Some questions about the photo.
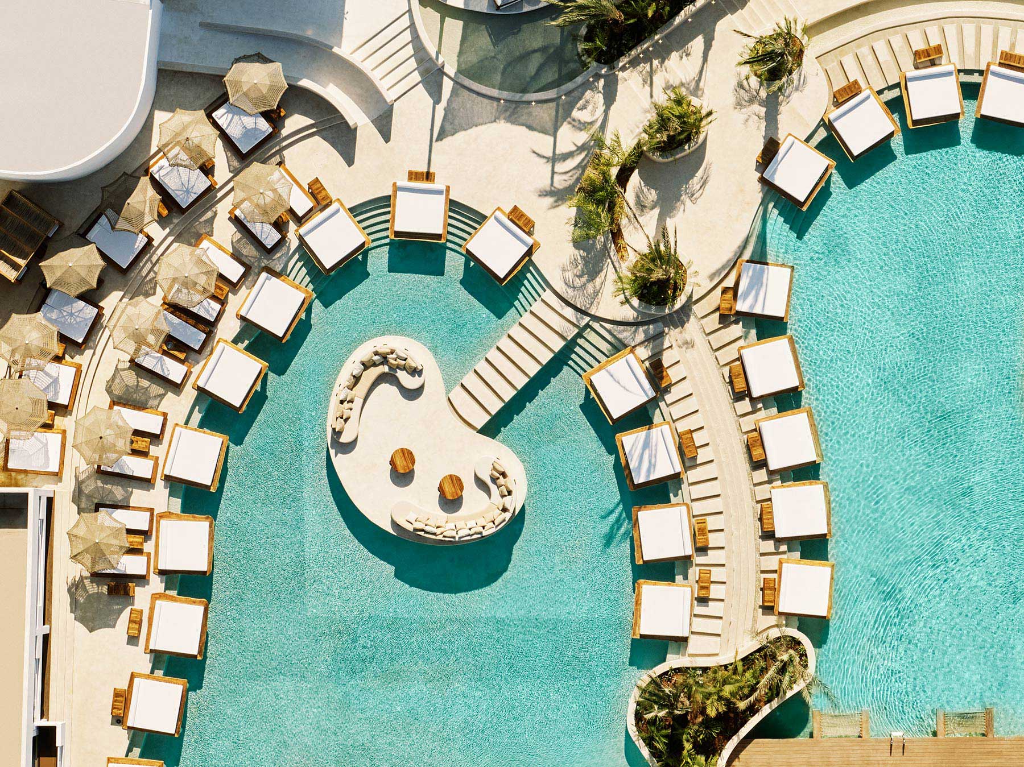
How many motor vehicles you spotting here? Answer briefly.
zero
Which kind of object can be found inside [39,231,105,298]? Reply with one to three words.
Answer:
umbrella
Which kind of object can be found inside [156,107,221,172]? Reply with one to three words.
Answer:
umbrella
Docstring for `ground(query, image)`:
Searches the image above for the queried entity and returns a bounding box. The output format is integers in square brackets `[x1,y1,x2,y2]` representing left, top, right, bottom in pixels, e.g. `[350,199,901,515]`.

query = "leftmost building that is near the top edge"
[0,0,160,182]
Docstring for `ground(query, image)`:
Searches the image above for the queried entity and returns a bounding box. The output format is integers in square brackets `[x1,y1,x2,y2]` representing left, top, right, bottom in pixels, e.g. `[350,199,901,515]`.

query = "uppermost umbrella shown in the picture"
[223,50,290,116]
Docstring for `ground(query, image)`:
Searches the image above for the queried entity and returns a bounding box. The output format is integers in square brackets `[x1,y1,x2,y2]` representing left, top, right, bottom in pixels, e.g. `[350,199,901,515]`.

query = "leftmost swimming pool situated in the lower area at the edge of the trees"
[126,195,692,767]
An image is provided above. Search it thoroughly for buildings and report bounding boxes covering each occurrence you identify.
[0,485,66,767]
[0,0,160,182]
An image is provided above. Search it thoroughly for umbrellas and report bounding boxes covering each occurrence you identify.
[156,107,221,172]
[105,295,171,361]
[39,231,105,298]
[70,405,134,469]
[0,311,61,374]
[231,160,294,223]
[67,507,132,572]
[0,376,50,439]
[223,50,290,116]
[155,243,221,309]
[96,171,162,237]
